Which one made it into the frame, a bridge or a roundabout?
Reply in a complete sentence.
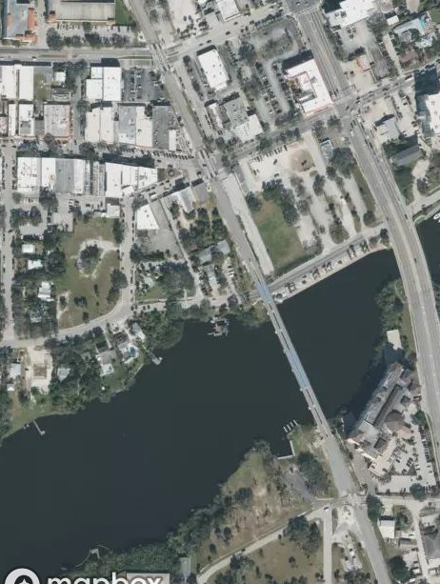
There is a bridge in the scene.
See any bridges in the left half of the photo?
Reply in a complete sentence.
No, I see no bridge in the left half of the photo.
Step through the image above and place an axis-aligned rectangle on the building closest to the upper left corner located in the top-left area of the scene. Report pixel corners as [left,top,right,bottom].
[2,0,34,41]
